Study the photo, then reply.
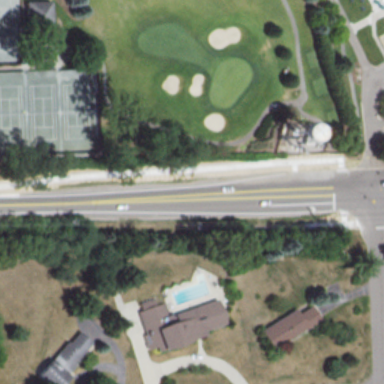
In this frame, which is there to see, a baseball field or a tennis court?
tennis court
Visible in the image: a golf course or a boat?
golf course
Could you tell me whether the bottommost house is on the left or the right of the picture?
left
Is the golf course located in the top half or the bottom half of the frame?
top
